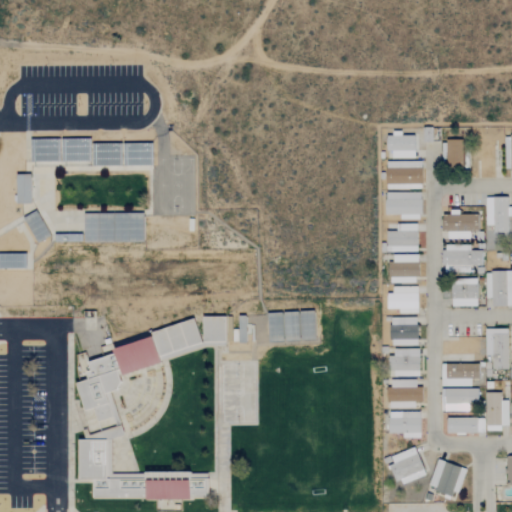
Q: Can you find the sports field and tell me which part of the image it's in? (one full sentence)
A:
The sports field appears toward the bottom of the photo.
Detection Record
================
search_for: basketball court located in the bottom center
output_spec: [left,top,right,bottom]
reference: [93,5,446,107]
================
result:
[221,361,258,427]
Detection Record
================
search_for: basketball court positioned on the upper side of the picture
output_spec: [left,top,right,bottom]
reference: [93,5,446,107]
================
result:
[154,154,197,216]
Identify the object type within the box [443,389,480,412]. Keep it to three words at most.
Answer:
house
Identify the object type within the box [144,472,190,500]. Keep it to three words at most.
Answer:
building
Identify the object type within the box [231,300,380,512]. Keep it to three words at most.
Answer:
sports field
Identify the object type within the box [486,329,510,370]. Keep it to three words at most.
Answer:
house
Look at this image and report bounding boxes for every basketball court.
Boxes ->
[221,361,258,427]
[154,154,197,216]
